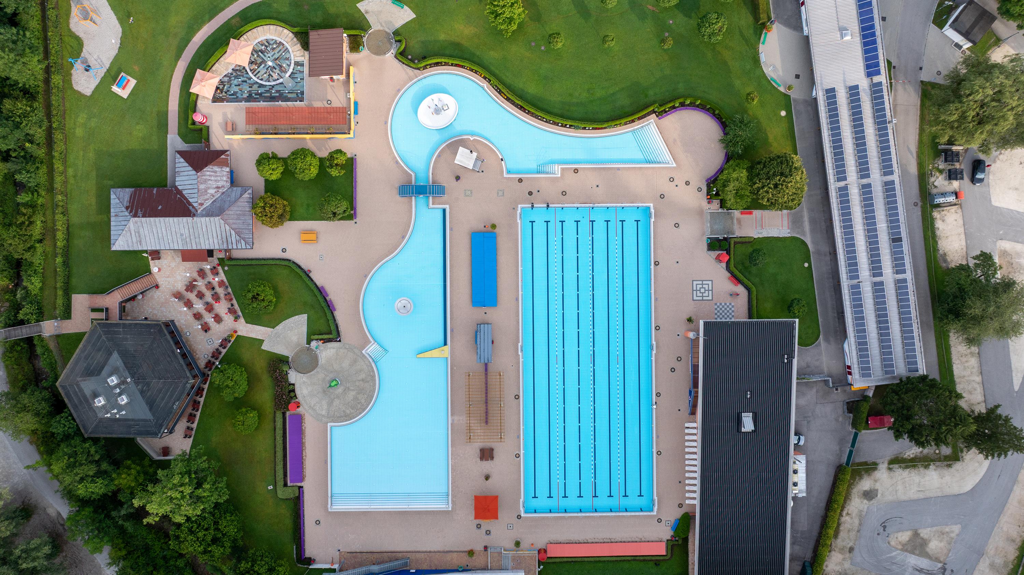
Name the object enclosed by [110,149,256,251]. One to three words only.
building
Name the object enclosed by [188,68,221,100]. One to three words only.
umbrella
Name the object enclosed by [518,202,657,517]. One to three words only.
swimming pool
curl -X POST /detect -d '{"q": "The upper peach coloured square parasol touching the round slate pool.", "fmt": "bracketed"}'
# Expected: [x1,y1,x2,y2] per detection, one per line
[224,36,254,68]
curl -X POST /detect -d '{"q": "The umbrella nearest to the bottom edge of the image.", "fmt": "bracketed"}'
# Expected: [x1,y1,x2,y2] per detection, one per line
[474,495,499,520]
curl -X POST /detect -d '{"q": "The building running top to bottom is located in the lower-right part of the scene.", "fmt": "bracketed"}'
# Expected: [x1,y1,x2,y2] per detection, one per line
[693,319,806,575]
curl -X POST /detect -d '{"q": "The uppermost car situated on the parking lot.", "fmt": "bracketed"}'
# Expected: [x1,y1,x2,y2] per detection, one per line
[972,159,990,186]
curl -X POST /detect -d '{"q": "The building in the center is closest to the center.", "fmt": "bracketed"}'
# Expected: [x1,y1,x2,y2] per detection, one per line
[477,324,492,363]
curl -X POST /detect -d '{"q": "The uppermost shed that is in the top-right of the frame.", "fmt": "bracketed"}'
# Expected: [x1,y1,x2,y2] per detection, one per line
[940,0,996,53]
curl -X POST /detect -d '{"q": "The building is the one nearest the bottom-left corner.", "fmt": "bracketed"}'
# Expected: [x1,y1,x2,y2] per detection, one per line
[55,318,207,458]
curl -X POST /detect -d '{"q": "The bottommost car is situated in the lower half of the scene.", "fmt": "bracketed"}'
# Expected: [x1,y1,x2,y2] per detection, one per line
[794,434,811,448]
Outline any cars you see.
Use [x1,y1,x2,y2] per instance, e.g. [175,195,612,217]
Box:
[794,434,811,448]
[972,159,990,186]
